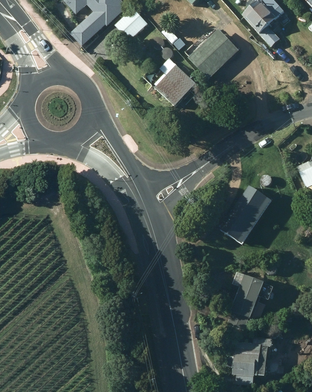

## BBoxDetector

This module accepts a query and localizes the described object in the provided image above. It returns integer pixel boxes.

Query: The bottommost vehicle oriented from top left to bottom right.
[290,64,305,79]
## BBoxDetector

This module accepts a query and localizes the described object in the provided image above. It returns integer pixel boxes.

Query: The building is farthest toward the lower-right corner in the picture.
[232,338,272,383]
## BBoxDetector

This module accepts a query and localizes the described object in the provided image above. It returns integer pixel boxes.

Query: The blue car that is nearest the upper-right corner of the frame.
[275,48,292,62]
